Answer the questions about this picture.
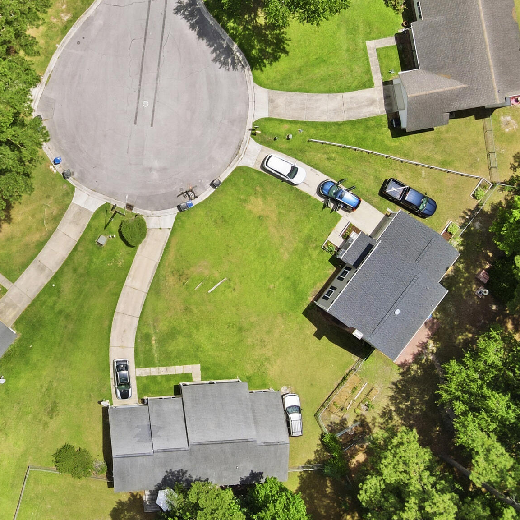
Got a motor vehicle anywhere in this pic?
Yes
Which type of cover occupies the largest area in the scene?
grass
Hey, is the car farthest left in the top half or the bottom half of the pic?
bottom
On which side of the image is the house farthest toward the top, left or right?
right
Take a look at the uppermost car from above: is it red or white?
white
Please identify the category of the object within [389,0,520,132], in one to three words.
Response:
house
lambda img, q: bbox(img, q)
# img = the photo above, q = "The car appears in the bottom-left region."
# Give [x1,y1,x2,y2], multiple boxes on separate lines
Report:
[112,356,133,401]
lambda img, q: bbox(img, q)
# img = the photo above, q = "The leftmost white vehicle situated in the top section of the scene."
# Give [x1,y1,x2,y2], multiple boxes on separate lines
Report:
[260,153,305,185]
